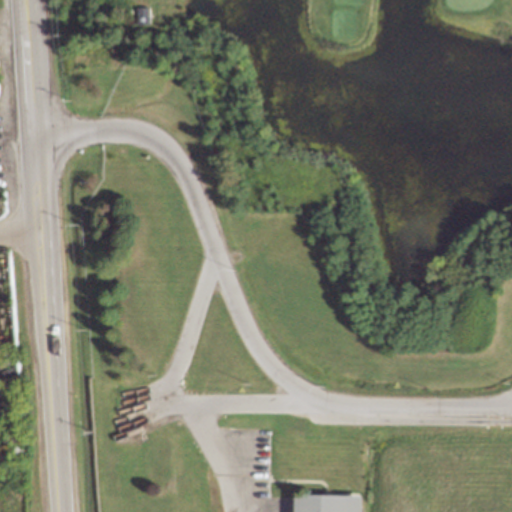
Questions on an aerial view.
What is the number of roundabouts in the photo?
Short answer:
0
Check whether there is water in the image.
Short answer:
Yes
